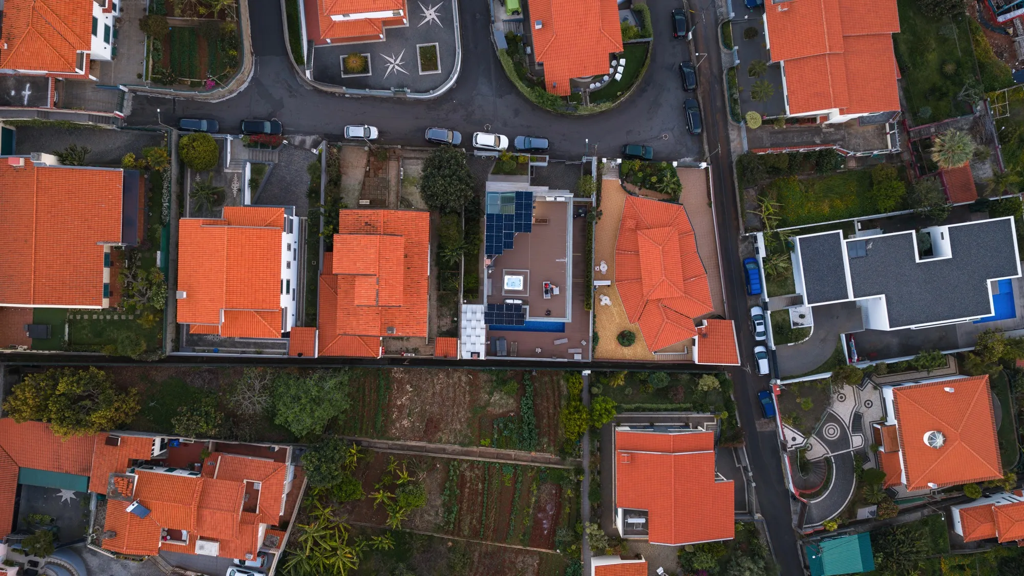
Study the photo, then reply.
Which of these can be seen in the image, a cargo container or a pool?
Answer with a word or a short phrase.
pool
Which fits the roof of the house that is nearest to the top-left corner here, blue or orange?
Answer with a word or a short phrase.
orange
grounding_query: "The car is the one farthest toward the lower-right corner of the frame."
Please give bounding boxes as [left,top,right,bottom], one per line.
[755,387,776,421]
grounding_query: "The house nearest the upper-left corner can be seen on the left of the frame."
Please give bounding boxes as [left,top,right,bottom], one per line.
[0,0,113,85]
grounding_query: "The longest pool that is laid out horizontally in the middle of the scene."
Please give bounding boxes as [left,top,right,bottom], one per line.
[488,317,565,332]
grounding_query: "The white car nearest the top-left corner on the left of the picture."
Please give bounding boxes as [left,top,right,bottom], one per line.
[345,124,379,141]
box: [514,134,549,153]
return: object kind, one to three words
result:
car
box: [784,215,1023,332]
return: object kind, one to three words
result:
house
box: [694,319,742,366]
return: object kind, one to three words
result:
building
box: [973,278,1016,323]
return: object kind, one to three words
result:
swimming pool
